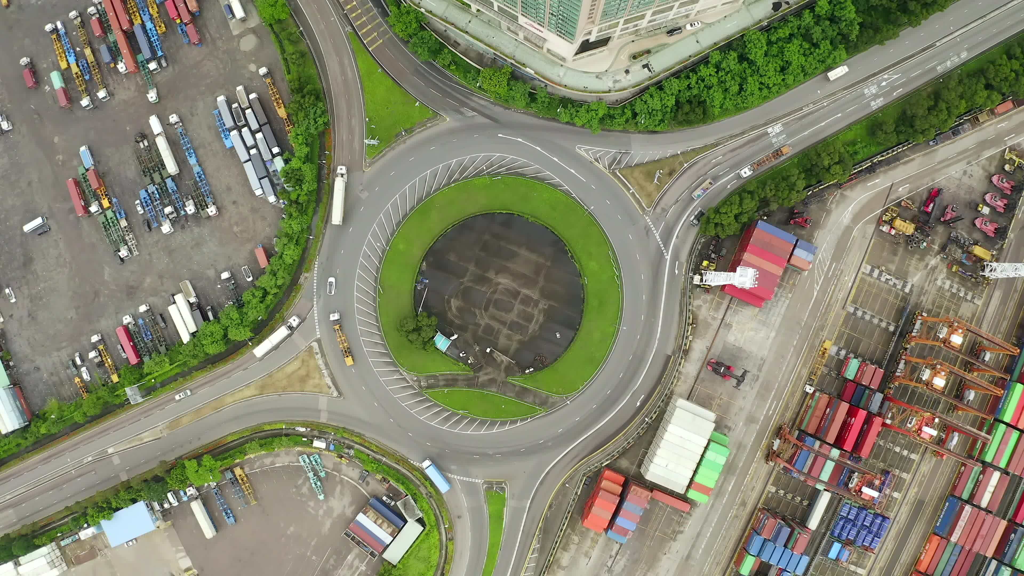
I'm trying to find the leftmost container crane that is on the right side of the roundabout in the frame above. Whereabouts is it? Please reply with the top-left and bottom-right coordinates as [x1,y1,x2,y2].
[763,421,882,505]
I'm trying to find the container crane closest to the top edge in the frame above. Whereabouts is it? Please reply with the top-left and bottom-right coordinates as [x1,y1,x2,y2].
[900,307,1022,380]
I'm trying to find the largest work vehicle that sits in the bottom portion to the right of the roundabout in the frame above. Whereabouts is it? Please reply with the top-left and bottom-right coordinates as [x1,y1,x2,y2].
[707,359,757,394]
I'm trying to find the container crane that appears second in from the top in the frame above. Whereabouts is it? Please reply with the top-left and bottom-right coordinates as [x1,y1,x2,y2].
[885,347,1005,421]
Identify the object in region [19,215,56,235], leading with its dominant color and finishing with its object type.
white bus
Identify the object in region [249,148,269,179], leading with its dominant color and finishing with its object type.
gray vehicle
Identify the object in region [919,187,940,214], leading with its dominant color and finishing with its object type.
red work vehicle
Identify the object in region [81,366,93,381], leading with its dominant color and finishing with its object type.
white vehicle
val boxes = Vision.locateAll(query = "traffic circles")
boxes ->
[341,143,645,447]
